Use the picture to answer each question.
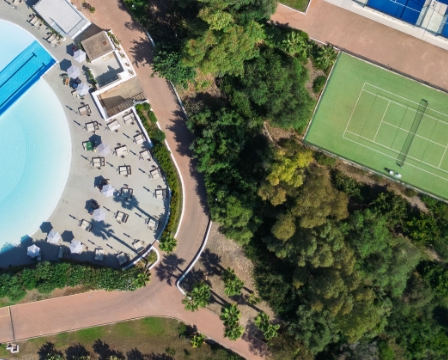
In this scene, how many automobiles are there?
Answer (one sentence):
The photo contains no automobiles.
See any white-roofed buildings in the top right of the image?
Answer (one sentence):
No, no white-roofed building can be made out in the top right of the image.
